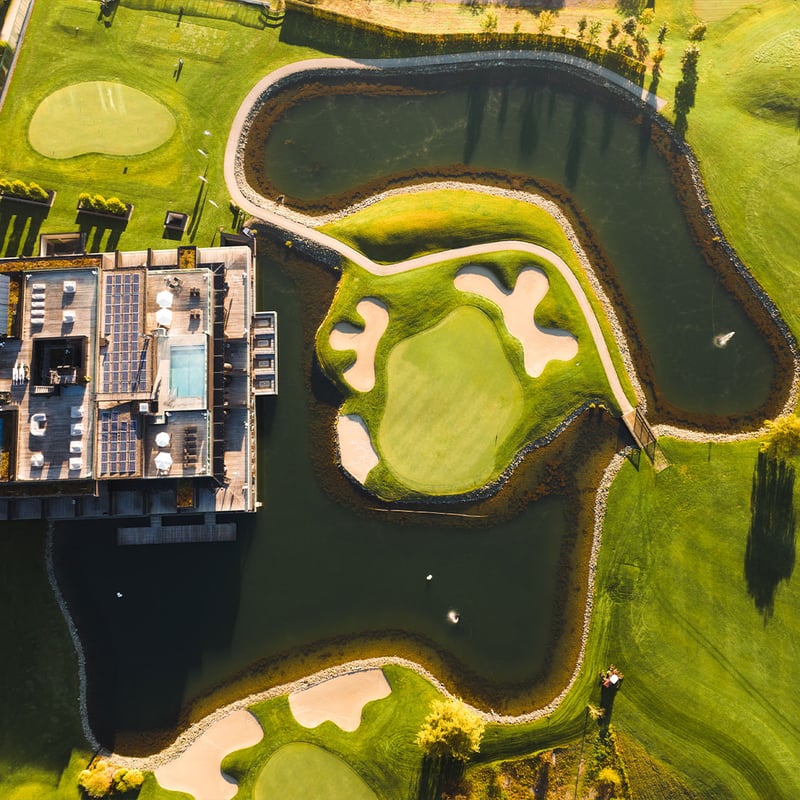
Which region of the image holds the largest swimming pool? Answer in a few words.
left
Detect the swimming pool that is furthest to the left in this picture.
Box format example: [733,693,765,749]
[149,336,211,427]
